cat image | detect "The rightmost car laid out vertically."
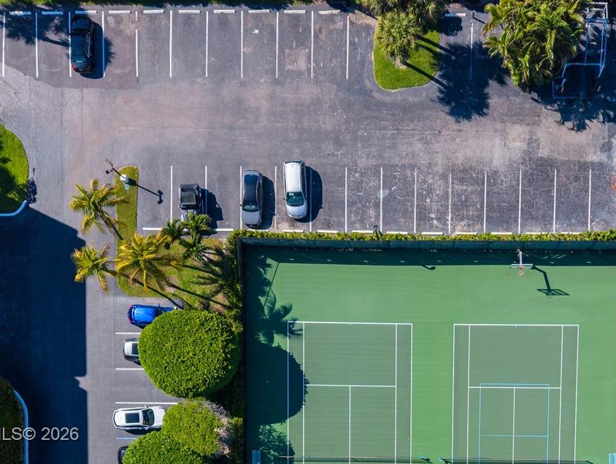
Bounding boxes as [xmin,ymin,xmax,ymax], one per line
[281,160,308,222]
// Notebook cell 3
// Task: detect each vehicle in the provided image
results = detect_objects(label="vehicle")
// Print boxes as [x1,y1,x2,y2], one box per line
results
[66,17,97,77]
[116,446,127,464]
[178,175,206,224]
[121,341,138,362]
[127,302,175,327]
[281,160,308,222]
[114,406,164,431]
[238,170,265,230]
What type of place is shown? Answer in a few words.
sports ground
